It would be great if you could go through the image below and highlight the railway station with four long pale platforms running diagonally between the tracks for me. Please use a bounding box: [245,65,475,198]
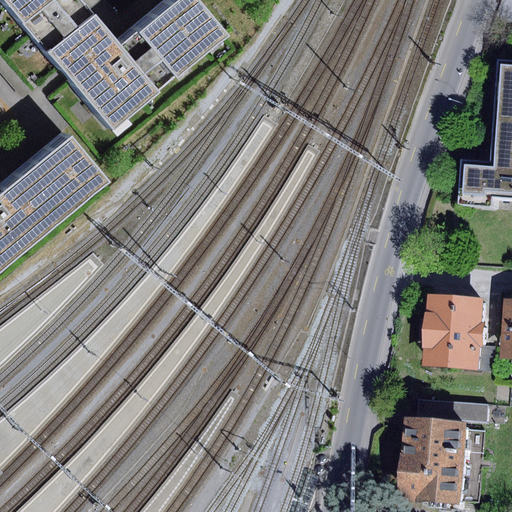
[0,114,322,512]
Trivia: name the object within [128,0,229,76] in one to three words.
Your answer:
building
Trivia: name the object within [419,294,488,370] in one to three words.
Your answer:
house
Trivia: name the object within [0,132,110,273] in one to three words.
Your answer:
building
